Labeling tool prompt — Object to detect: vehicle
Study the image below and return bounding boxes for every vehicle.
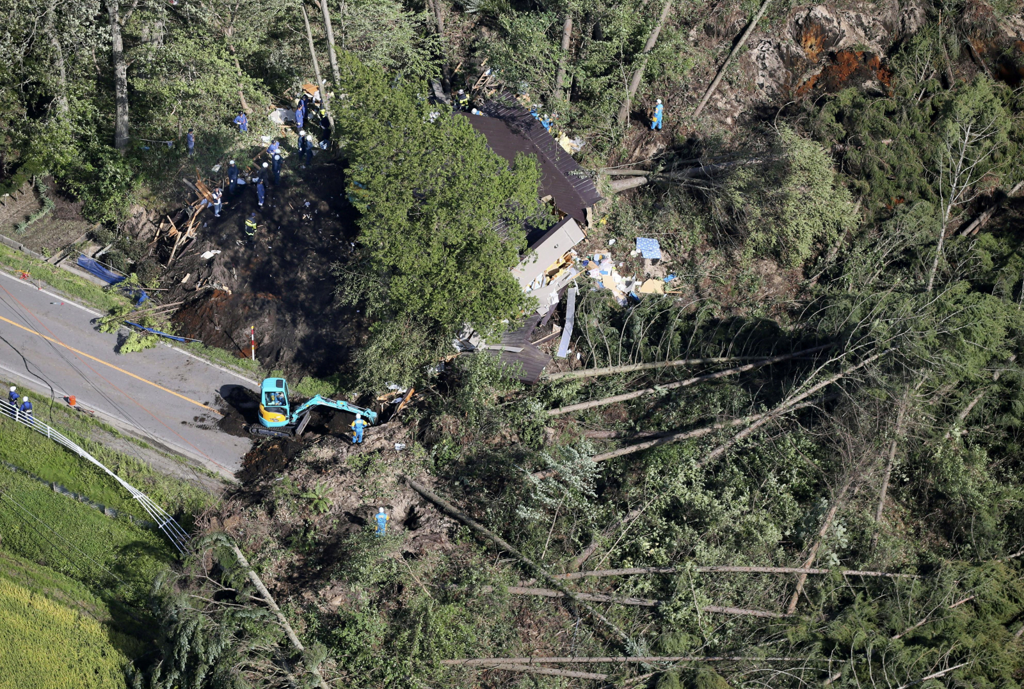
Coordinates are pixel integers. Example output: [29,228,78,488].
[245,373,377,443]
